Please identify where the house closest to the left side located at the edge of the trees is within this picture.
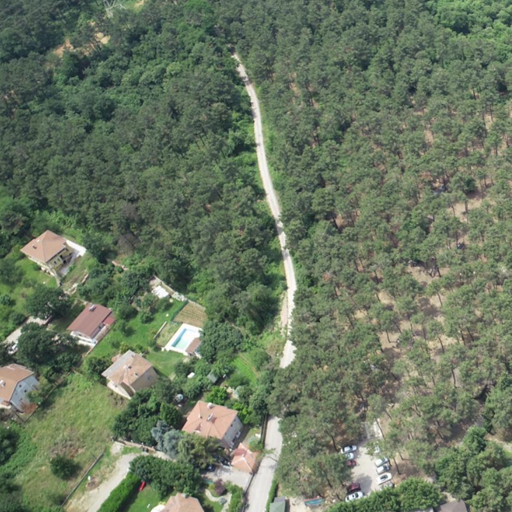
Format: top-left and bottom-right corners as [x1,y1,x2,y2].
[0,364,42,415]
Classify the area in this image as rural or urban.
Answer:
rural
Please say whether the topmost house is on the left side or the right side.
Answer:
left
